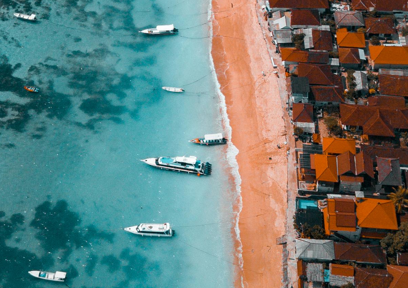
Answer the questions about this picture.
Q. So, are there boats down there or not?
Yes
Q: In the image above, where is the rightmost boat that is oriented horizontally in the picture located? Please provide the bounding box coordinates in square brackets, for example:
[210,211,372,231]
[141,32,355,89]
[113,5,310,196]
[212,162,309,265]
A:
[187,133,230,145]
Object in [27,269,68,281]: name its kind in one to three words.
boat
